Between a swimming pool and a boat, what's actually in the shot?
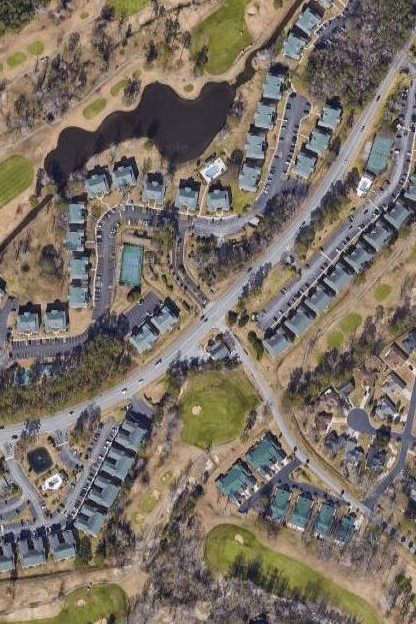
swimming pool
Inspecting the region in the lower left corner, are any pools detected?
Yes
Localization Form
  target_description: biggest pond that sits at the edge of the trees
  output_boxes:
[44,81,236,197]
